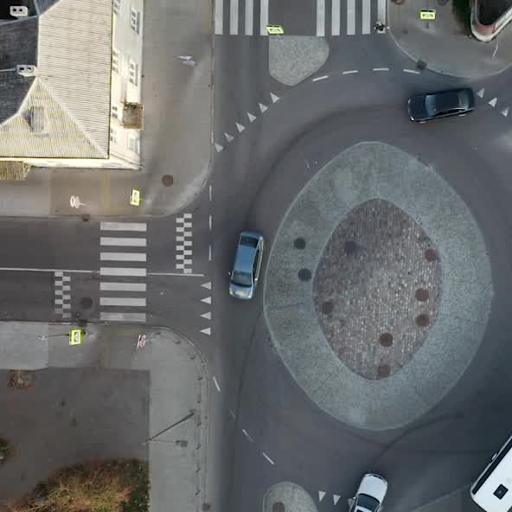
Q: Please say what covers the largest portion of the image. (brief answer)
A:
paved ground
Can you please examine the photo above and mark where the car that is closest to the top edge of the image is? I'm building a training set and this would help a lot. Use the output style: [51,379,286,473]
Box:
[406,87,476,123]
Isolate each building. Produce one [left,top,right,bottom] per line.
[0,0,147,177]
[469,0,512,43]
